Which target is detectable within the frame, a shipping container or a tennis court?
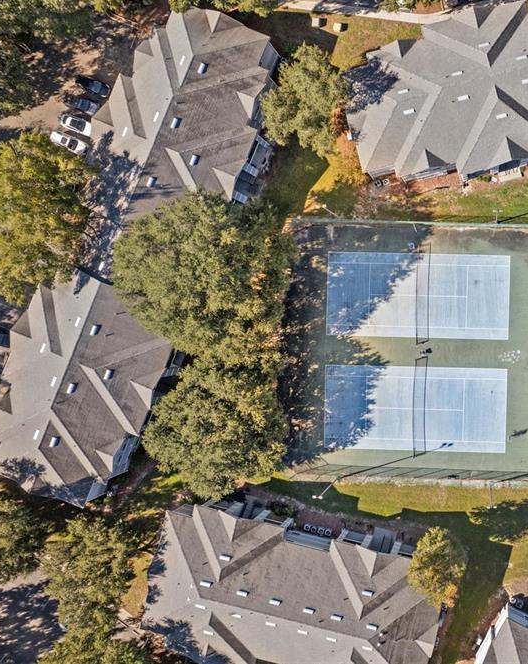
tennis court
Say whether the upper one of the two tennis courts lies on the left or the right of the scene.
right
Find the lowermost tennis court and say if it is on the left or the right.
right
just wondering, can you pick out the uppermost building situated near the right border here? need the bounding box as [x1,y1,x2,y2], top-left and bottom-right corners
[341,0,528,183]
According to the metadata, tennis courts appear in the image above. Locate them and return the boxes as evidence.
[324,365,508,453]
[326,251,511,340]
